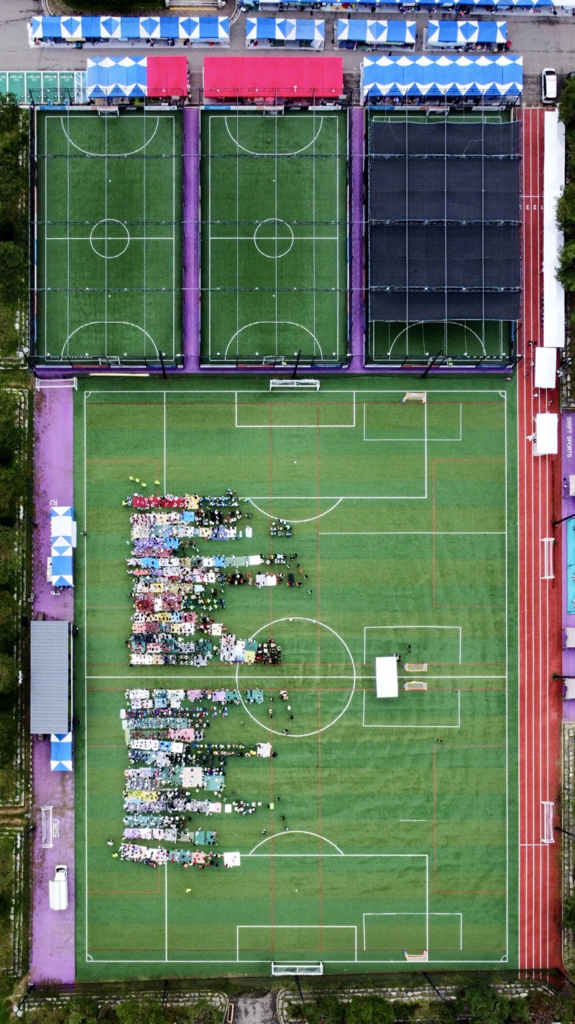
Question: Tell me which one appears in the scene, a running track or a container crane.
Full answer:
This aerial view contains a running track.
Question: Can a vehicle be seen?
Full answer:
Yes, a vehicle is visible in the scene.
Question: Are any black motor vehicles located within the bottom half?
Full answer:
No, there is no black motor vehicle within the bottom half.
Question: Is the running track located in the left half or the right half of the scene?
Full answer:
You can find the running track on the right side of the picture.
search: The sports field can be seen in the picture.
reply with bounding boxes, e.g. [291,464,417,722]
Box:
[75,373,518,983]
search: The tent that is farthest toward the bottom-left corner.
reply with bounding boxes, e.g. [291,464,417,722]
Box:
[50,731,75,771]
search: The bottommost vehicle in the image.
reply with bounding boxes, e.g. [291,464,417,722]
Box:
[50,863,69,909]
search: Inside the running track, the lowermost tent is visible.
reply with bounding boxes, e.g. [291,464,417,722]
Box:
[532,414,557,458]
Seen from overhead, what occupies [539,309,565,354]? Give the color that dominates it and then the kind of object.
white tent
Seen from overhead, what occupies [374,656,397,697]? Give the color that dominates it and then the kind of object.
white tent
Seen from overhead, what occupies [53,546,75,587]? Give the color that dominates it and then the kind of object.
blue tent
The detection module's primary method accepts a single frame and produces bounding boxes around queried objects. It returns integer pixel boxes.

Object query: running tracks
[518,108,562,980]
